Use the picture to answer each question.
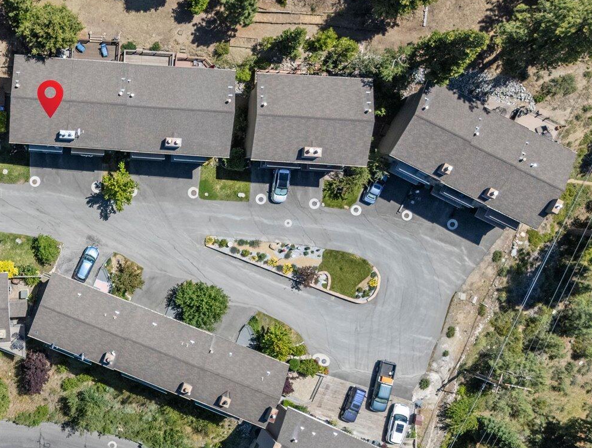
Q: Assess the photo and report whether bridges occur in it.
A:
No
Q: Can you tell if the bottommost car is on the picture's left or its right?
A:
right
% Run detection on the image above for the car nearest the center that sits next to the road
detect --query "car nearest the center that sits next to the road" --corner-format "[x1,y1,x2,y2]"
[272,170,289,204]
